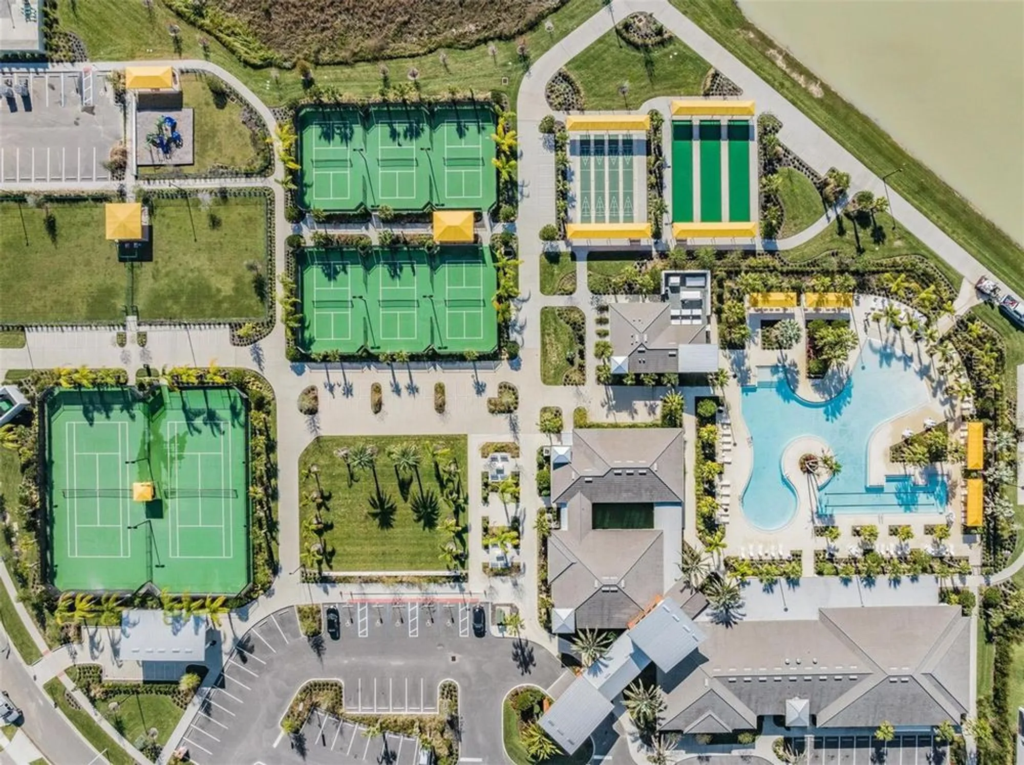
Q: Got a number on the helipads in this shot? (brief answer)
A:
0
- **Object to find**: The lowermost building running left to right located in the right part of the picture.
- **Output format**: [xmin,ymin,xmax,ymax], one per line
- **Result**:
[656,607,972,735]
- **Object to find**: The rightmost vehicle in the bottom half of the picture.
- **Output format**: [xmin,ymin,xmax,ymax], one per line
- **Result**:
[472,609,486,638]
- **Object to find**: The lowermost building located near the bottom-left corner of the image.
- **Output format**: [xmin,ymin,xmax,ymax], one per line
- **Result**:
[120,610,210,661]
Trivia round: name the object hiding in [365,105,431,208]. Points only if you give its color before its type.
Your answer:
green sports court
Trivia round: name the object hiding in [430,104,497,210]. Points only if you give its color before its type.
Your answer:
green sports court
